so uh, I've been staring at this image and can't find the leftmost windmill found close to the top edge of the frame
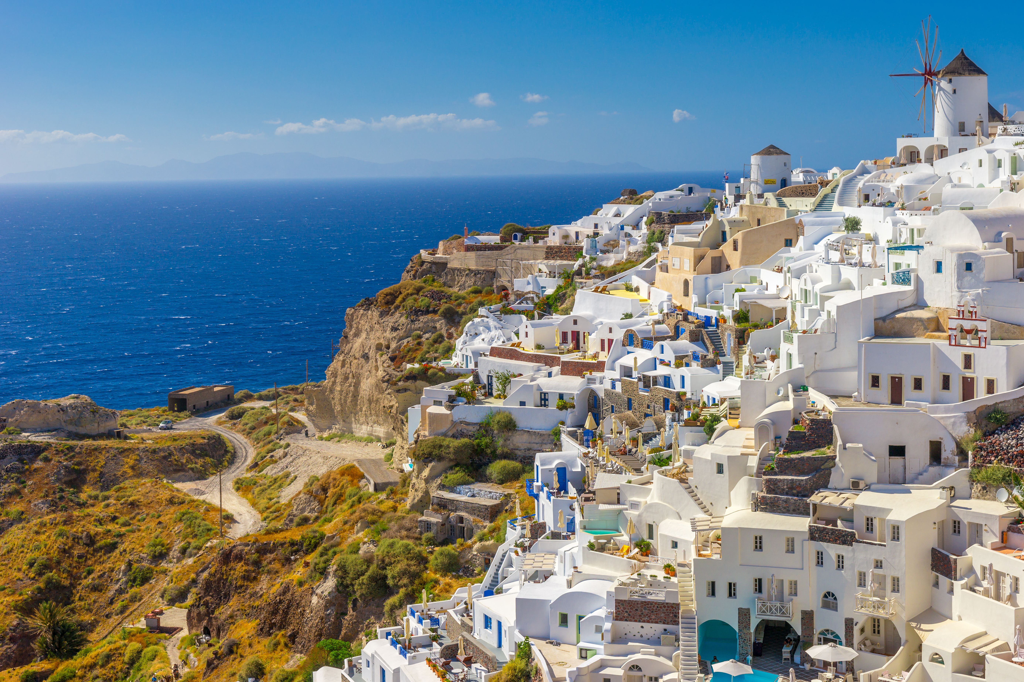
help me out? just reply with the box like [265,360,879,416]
[887,17,992,159]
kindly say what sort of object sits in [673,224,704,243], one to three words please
house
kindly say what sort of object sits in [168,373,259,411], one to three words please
building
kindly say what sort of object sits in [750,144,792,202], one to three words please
windmill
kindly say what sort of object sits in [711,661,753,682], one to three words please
umbrella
